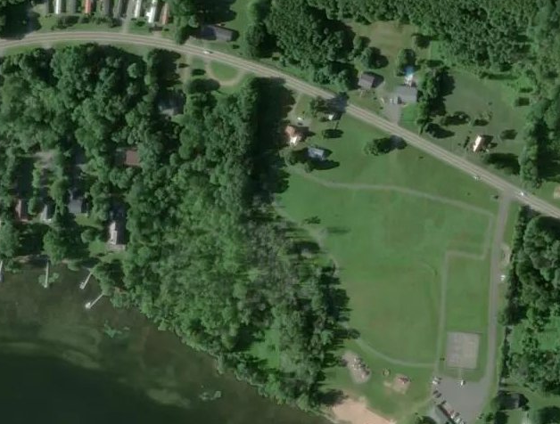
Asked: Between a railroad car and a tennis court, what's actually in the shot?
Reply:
tennis court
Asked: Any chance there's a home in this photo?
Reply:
Yes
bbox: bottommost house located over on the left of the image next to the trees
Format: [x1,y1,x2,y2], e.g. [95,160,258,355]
[110,222,124,253]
